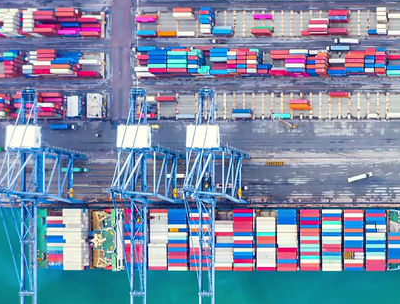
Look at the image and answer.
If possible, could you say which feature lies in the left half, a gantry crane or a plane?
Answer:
gantry crane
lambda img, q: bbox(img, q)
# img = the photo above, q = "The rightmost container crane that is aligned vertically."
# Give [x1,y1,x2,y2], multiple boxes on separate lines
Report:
[181,87,254,304]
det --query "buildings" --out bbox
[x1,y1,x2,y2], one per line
[87,93,108,119]
[68,96,85,119]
